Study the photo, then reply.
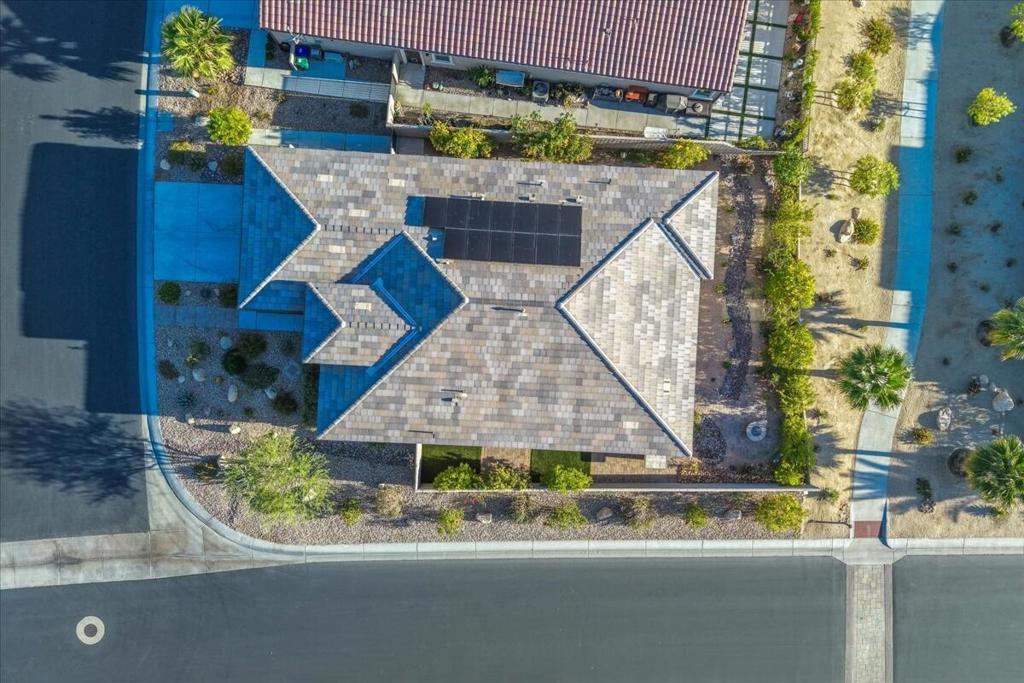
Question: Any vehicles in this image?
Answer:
No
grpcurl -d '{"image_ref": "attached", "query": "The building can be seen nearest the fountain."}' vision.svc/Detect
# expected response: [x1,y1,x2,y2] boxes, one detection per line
[237,145,720,459]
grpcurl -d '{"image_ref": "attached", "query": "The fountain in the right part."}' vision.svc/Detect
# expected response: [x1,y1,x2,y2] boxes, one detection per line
[744,421,767,442]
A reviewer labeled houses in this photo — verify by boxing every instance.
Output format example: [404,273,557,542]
[237,145,720,459]
[259,0,750,103]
